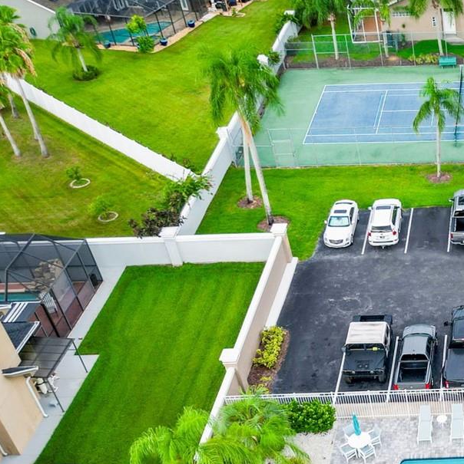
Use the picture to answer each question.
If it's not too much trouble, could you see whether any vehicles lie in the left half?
No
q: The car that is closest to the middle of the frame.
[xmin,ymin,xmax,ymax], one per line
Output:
[323,204,362,251]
